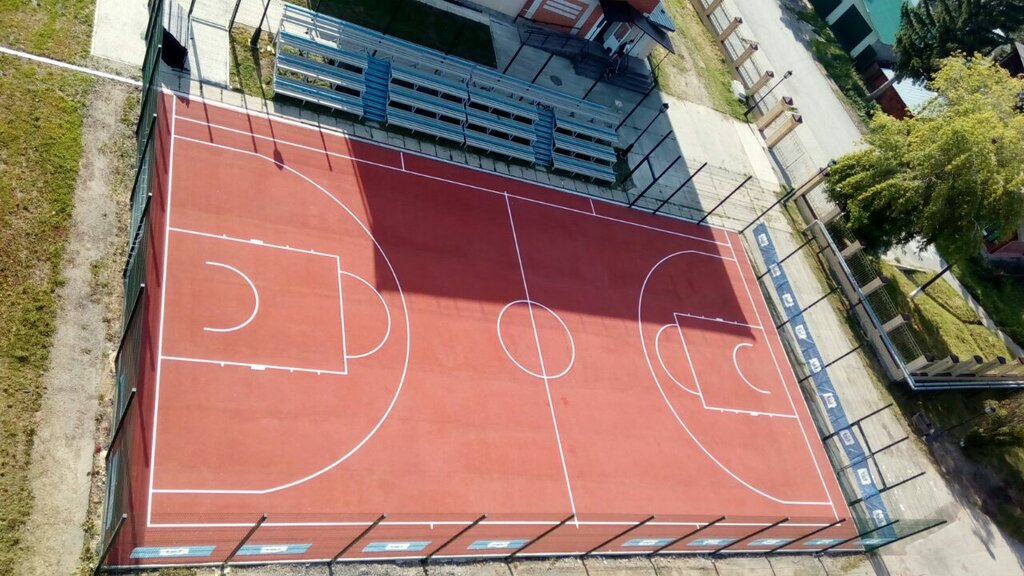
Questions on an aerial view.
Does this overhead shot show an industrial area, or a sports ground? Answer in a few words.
sports ground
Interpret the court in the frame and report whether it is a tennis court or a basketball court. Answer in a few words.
basketball court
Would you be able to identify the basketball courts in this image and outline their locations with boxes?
[101,89,866,575]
